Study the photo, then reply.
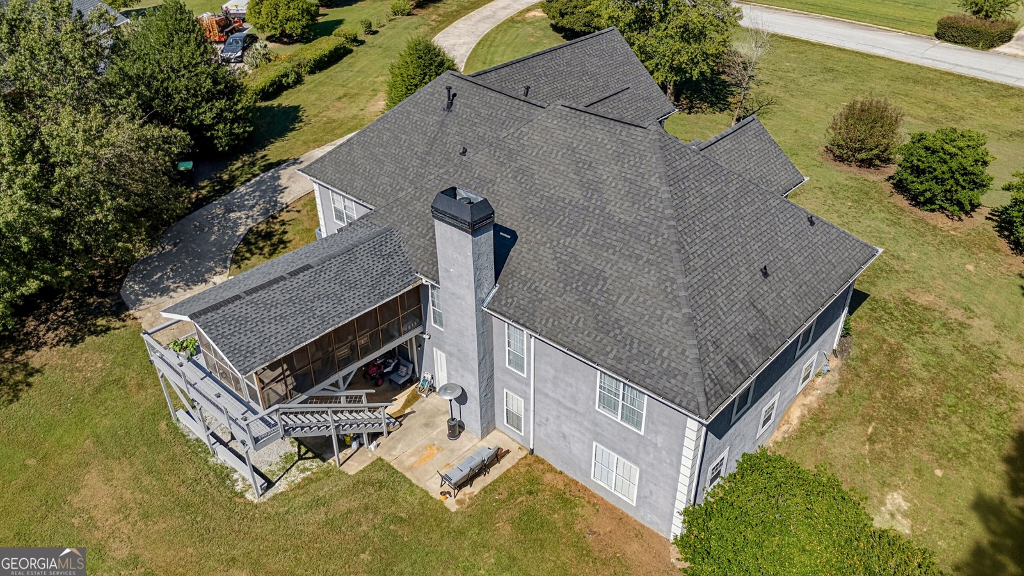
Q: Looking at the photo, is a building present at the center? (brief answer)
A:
Yes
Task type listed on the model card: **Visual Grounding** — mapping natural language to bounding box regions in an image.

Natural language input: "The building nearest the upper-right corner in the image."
[294,29,885,545]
